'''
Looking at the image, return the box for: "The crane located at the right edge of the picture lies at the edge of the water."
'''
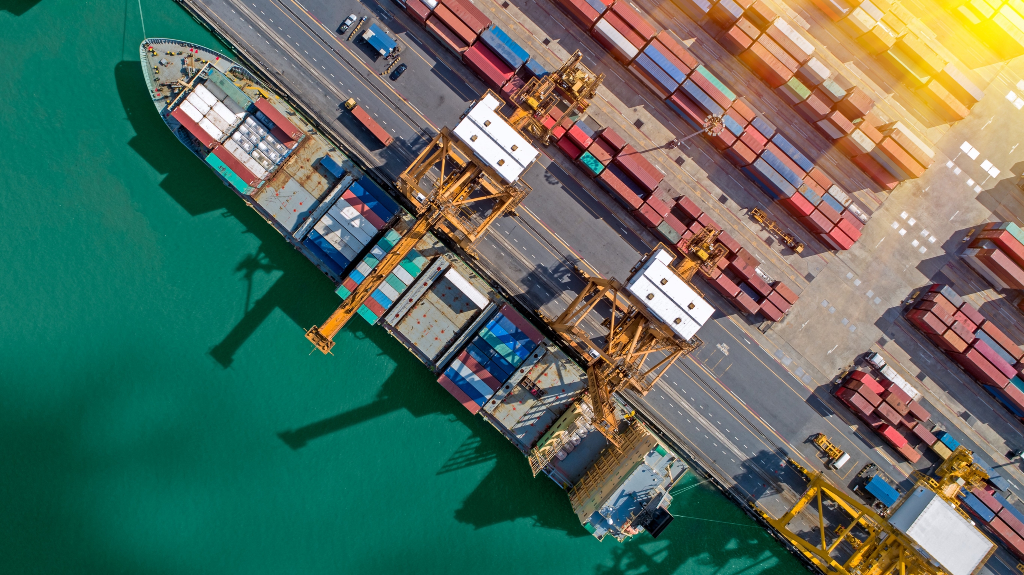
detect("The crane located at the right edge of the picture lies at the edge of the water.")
[752,435,997,575]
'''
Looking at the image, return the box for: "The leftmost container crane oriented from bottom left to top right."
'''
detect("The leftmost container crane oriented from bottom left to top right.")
[297,77,557,362]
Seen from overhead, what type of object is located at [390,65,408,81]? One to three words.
car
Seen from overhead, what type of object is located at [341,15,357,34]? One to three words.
vehicle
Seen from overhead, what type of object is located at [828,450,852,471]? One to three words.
vehicle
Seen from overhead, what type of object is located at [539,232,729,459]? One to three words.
container crane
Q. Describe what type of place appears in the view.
port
